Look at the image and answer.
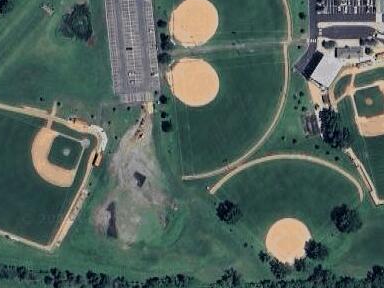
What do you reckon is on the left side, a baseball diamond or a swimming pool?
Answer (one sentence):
There is a baseball diamond on the left side.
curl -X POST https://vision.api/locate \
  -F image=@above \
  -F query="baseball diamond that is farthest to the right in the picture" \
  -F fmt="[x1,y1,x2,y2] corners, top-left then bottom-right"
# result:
[323,60,384,204]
